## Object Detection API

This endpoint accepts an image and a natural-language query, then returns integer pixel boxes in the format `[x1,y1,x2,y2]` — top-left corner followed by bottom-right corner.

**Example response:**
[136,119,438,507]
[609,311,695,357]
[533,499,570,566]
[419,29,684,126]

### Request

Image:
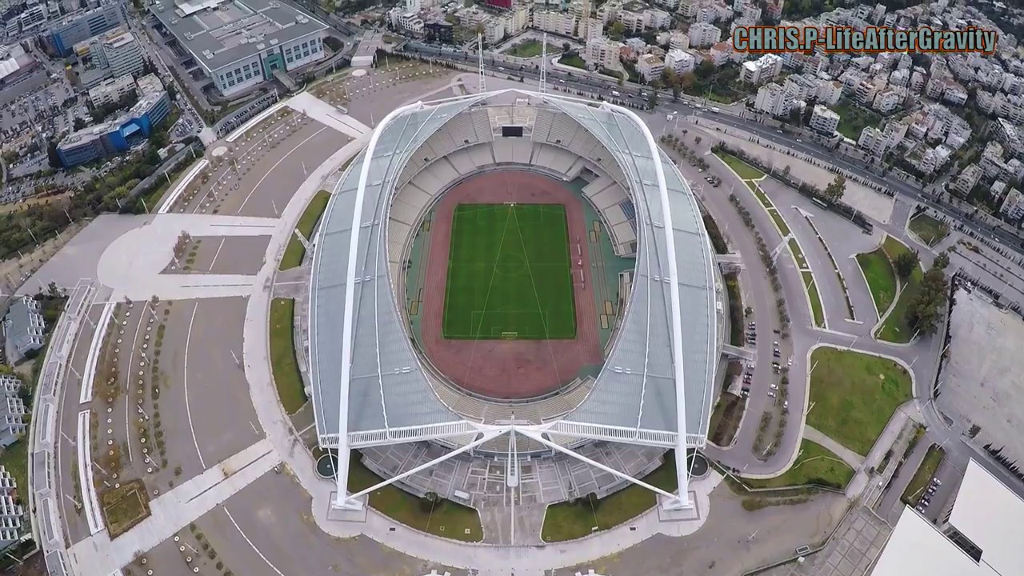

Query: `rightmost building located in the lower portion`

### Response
[936,458,1024,576]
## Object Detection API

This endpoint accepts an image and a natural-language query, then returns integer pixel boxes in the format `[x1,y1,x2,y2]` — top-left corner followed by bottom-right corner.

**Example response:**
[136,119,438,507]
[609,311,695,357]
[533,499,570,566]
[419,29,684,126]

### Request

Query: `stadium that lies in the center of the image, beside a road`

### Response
[300,87,724,511]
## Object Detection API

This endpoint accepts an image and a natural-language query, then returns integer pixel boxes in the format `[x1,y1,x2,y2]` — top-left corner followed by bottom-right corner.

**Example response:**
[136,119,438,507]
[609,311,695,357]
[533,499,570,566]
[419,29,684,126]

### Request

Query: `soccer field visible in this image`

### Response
[442,203,578,339]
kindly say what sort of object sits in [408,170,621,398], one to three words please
running track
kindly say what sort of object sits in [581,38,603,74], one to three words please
building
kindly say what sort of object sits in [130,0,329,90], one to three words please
building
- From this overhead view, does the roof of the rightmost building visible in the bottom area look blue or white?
white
